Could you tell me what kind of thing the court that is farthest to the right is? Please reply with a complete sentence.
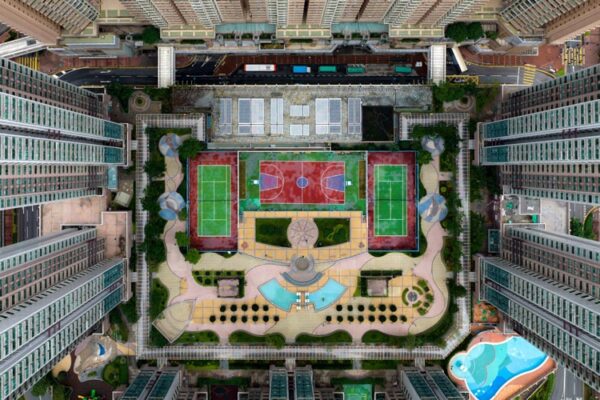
The court that is farthest to the right can be classified as a tennis court.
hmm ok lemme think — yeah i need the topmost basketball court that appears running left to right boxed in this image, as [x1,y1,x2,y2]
[238,150,368,212]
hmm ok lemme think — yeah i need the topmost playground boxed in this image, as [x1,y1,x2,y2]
[74,335,115,372]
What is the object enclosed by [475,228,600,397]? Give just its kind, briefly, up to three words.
building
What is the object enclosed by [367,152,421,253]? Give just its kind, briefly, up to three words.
tennis court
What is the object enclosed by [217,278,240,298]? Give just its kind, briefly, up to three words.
building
